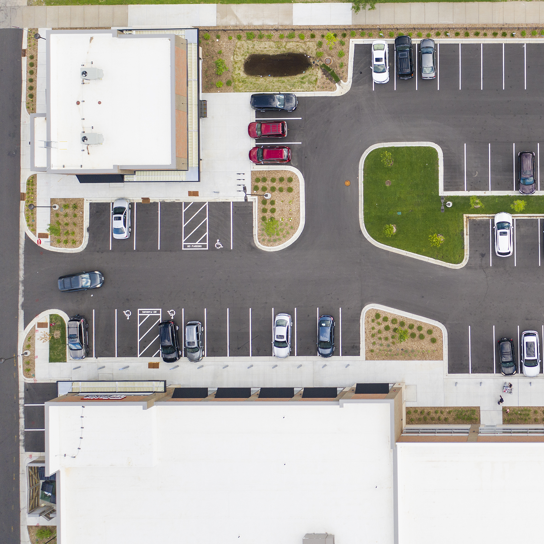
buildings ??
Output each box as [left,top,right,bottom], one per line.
[48,380,407,544]
[30,28,201,183]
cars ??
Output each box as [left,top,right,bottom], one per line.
[249,144,292,165]
[521,330,541,376]
[517,150,537,195]
[57,271,106,294]
[497,336,517,375]
[159,320,182,362]
[418,39,437,80]
[111,198,133,239]
[248,119,289,139]
[394,35,415,80]
[66,320,89,359]
[250,91,298,112]
[370,39,390,84]
[184,321,206,361]
[316,315,336,357]
[271,313,293,358]
[494,212,514,257]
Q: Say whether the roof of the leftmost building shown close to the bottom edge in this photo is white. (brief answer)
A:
Yes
